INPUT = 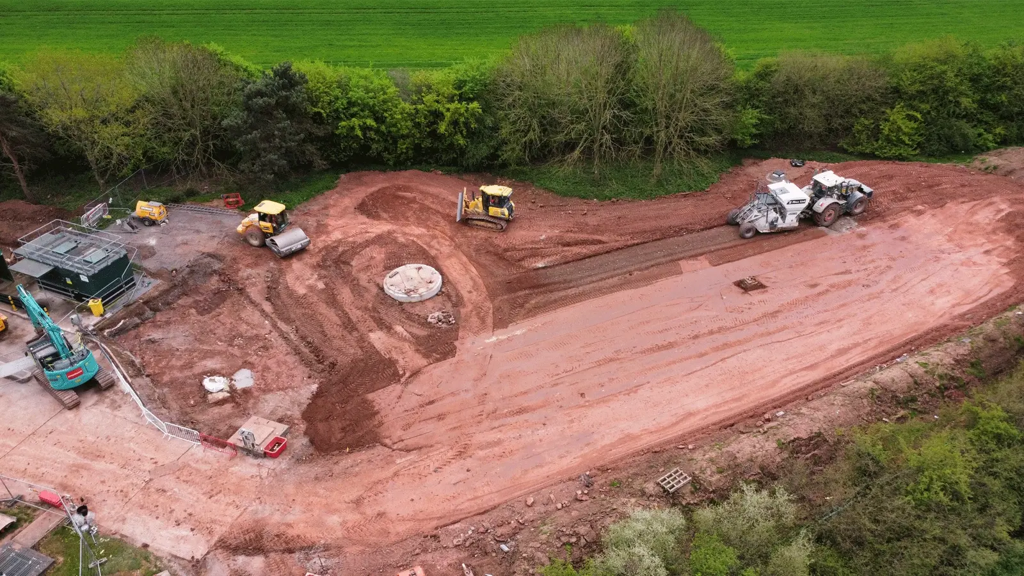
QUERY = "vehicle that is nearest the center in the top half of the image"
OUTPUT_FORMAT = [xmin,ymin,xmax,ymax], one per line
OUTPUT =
[462,183,516,231]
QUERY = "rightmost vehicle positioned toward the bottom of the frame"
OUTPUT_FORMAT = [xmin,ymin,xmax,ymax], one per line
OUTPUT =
[23,281,118,413]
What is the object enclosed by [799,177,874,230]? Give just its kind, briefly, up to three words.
work vehicle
